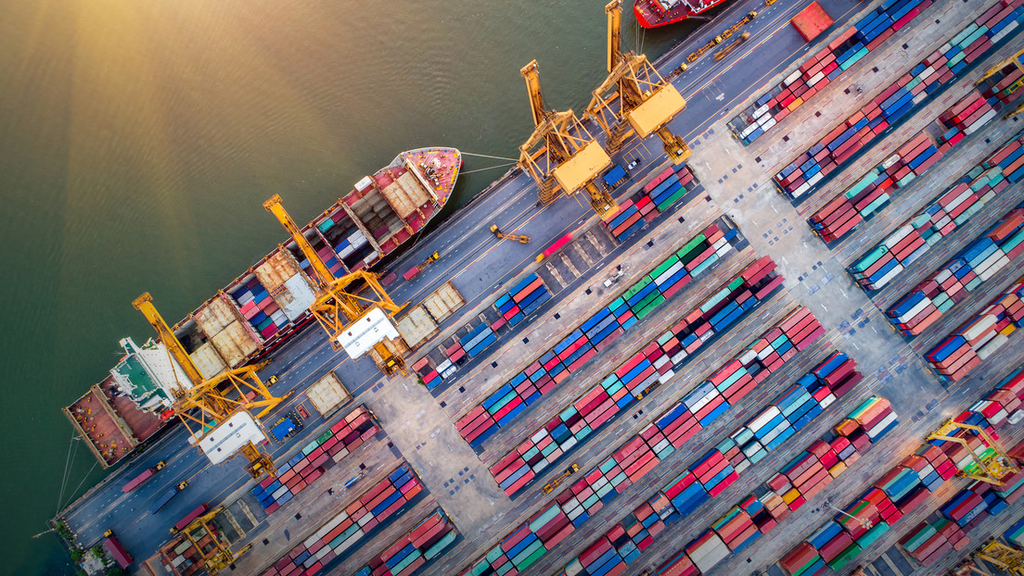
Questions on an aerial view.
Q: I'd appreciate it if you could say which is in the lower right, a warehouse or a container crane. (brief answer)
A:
container crane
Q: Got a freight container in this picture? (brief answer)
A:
Yes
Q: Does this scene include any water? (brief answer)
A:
Yes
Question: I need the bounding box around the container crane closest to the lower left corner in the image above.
[144,525,203,576]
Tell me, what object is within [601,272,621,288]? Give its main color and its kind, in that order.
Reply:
white vehicle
